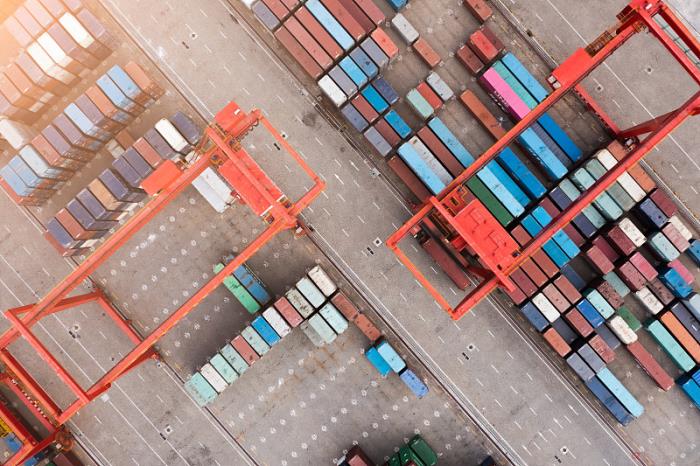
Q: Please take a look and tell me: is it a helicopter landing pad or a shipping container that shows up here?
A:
shipping container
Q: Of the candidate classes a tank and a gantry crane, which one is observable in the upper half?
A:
gantry crane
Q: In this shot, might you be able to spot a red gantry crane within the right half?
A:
Yes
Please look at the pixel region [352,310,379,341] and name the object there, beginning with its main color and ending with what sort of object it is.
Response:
red shipping container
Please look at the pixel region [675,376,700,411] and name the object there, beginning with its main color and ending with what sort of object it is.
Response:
blue shipping container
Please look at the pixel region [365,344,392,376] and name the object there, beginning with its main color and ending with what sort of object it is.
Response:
blue shipping container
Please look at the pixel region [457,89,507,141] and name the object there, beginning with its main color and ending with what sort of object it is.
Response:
red shipping container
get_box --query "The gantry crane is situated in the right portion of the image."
[388,0,700,320]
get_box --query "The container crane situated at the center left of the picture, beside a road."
[0,101,329,426]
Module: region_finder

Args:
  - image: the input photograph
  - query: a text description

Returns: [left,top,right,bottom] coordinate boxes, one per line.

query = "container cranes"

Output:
[0,101,329,426]
[0,365,72,466]
[388,0,700,320]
